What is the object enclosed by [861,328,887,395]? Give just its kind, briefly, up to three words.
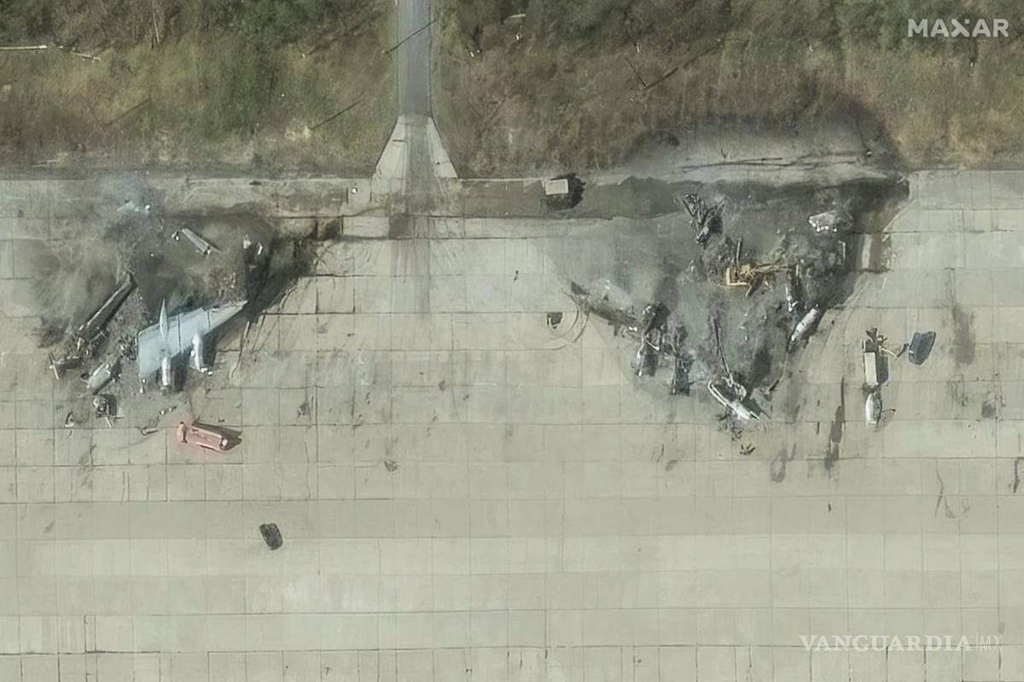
truck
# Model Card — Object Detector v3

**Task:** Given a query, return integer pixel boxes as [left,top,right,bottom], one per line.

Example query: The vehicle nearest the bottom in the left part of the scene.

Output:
[178,417,226,453]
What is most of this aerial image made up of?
paved ground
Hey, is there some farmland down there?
No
